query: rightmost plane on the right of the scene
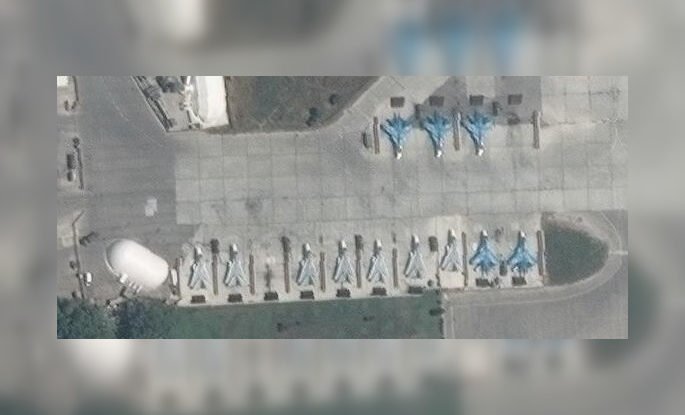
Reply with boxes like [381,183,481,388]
[508,232,538,276]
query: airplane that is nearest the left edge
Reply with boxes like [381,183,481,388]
[189,246,209,288]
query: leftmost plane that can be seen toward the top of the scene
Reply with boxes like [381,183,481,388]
[383,114,413,159]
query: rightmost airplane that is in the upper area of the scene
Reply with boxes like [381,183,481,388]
[463,110,493,155]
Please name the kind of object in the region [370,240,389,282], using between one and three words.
airplane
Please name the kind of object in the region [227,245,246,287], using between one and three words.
airplane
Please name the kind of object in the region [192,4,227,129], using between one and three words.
hangar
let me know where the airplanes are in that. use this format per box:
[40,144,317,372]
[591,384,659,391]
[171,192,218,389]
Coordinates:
[443,231,462,273]
[227,245,246,287]
[508,232,538,276]
[423,113,453,157]
[370,240,389,282]
[407,236,426,278]
[463,110,493,155]
[335,240,355,284]
[189,246,209,288]
[383,114,413,159]
[470,229,500,276]
[299,244,318,286]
